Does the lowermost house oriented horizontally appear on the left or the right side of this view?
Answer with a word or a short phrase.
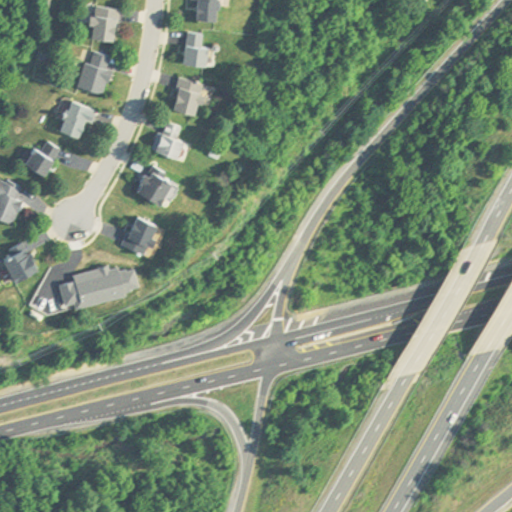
left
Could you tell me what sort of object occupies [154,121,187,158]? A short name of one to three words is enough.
house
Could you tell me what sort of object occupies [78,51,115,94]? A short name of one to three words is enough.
house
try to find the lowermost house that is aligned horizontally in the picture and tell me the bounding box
[58,264,136,309]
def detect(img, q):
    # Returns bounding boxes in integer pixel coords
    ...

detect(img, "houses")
[173,78,208,115]
[26,141,59,174]
[154,121,187,158]
[122,216,162,250]
[78,51,115,94]
[60,100,96,136]
[196,0,218,23]
[182,33,214,68]
[58,264,136,309]
[5,244,39,282]
[139,166,174,203]
[0,178,25,219]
